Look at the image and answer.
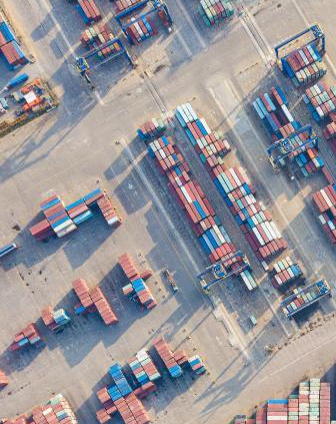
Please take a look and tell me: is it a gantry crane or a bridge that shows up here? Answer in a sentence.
The image shows a gantry crane.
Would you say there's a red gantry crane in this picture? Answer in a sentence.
No, the photo shows no red gantry crane.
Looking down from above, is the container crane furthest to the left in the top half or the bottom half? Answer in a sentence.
The container crane furthest to the left sits in the top half of the picture.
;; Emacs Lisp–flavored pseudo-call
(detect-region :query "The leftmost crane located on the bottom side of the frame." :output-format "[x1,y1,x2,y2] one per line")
[201,256,250,295]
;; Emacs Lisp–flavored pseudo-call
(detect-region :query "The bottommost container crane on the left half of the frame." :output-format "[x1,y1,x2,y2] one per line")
[81,38,137,87]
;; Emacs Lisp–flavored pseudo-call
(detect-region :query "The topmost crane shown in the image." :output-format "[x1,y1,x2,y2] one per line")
[115,0,168,47]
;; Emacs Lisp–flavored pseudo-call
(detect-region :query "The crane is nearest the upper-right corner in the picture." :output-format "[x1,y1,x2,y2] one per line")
[277,25,323,76]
